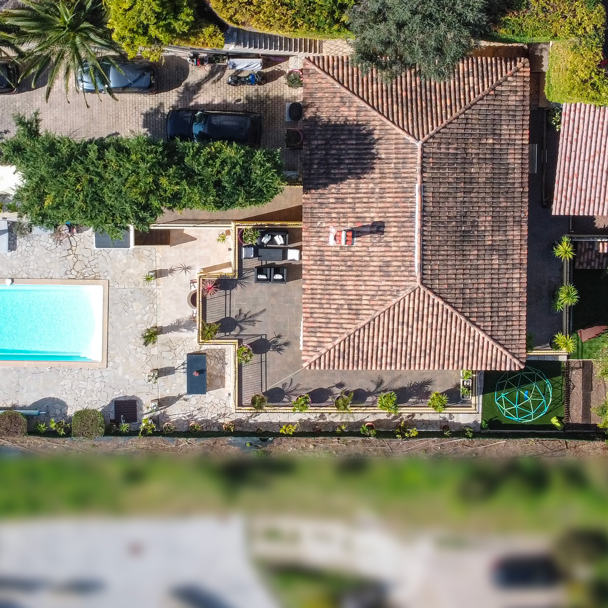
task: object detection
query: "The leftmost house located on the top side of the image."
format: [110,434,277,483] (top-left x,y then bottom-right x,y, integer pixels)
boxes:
[301,55,532,372]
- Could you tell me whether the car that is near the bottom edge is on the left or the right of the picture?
right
